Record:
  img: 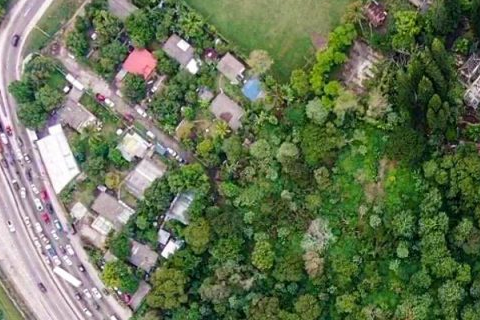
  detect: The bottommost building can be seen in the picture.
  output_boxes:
[128,282,152,311]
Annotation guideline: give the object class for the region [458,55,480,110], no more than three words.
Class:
house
